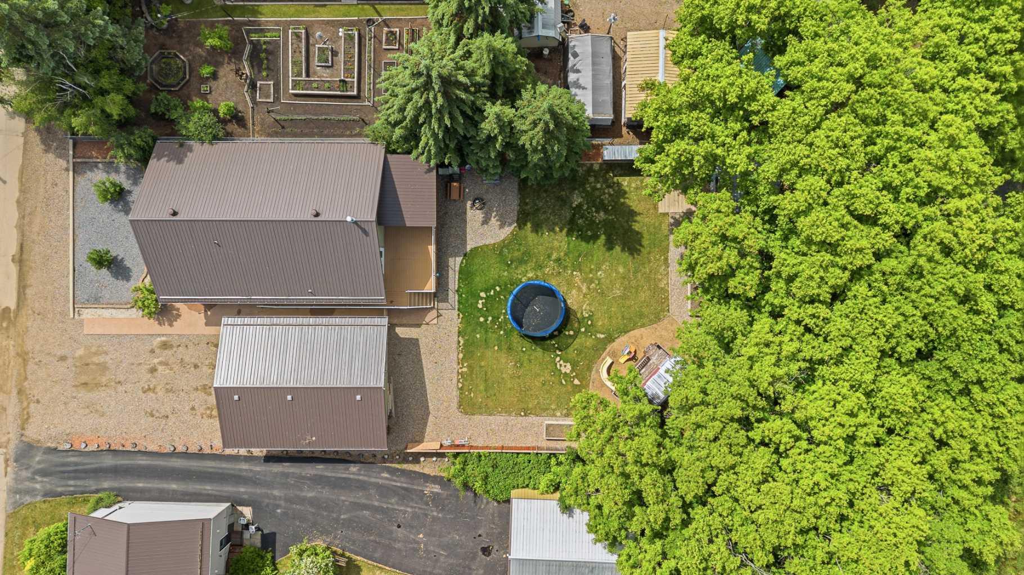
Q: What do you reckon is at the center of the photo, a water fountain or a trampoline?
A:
trampoline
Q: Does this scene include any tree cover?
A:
Yes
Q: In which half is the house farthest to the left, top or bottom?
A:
bottom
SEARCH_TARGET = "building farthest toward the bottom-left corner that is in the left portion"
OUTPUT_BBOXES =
[65,501,230,575]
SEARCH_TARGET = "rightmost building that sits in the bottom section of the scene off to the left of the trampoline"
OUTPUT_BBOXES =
[211,314,393,452]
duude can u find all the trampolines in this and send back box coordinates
[508,280,566,340]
